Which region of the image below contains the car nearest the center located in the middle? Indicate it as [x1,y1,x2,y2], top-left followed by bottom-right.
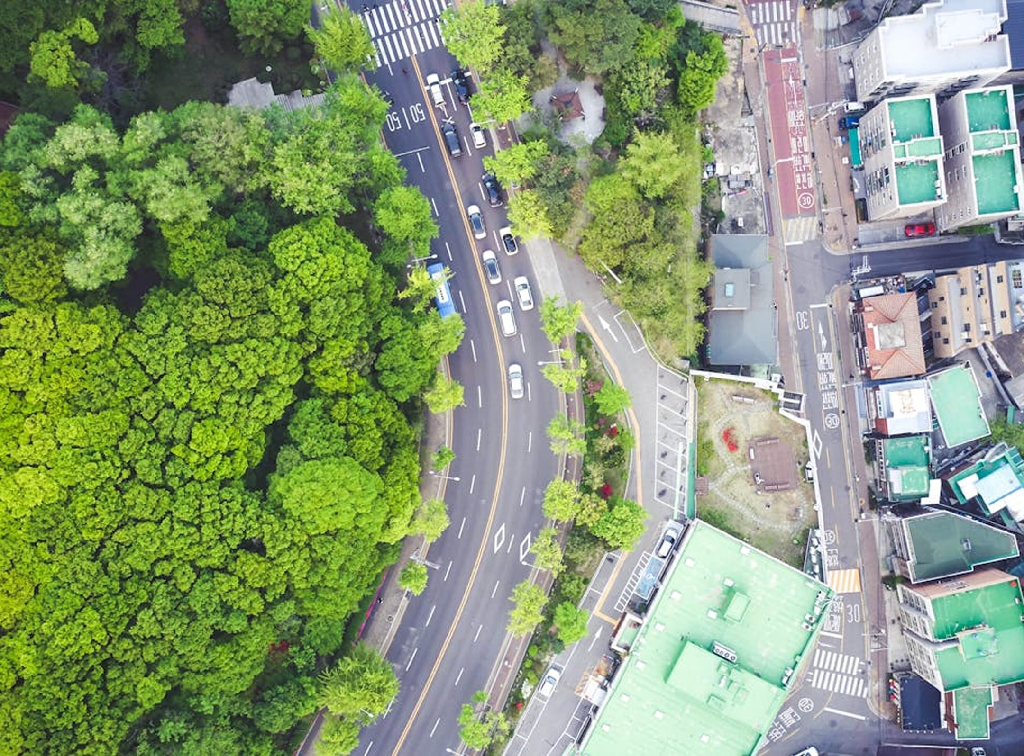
[507,362,525,399]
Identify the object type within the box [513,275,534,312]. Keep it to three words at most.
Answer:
car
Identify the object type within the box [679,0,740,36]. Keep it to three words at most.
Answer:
shed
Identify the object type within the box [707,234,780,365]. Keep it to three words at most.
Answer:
building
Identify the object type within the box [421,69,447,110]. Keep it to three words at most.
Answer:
truck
